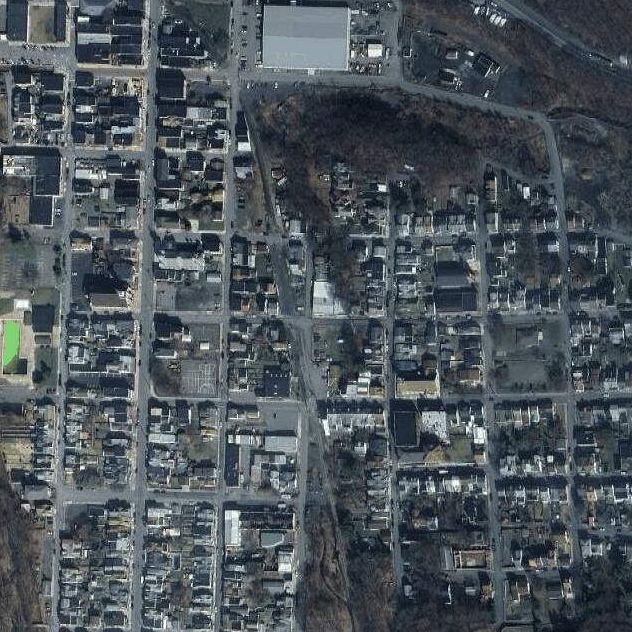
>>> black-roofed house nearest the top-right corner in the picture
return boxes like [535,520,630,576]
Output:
[470,52,498,76]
